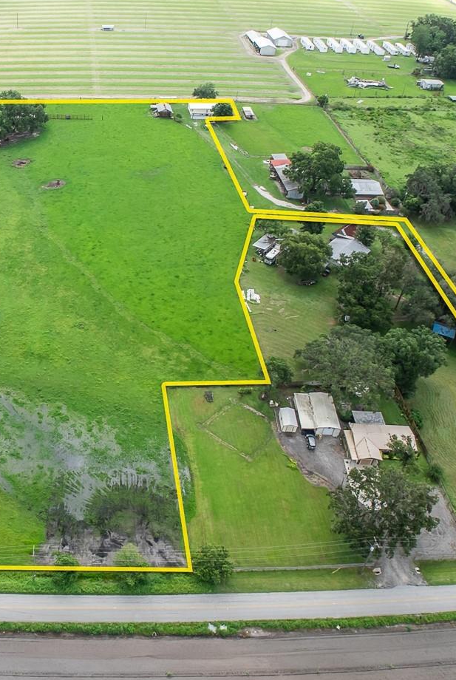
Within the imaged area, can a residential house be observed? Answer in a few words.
Yes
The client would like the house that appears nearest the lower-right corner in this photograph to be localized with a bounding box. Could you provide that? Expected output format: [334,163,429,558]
[336,424,419,466]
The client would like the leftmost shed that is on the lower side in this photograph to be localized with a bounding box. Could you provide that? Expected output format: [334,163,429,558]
[274,406,298,433]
